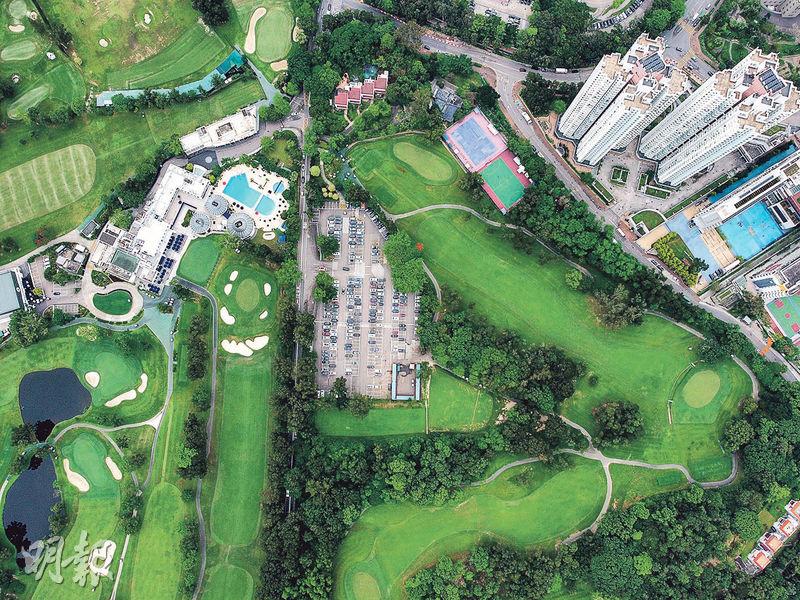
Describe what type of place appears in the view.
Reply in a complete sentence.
What you see here is a golf course.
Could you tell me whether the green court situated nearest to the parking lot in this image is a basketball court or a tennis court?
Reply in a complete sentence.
It looks like the green court situated nearest to the parking lot is a tennis court.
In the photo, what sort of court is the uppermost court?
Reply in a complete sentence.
The uppermost court appears to be a tennis court.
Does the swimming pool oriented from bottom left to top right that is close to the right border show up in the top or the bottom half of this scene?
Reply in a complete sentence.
The top half of the photo is where the swimming pool oriented from bottom left to top right that is close to the right border is.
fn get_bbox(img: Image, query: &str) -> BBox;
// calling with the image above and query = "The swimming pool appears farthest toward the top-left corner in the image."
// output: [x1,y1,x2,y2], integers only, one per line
[222,172,262,209]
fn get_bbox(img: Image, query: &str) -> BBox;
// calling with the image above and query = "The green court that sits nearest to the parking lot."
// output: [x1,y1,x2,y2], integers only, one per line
[473,148,534,216]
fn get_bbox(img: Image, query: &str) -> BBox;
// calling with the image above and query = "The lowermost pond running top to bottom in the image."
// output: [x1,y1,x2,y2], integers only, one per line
[3,445,57,570]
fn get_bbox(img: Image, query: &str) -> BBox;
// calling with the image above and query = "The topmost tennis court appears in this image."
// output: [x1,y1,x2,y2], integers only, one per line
[443,106,509,173]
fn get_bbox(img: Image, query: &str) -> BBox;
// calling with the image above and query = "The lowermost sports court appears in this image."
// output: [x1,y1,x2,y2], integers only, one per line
[768,289,800,339]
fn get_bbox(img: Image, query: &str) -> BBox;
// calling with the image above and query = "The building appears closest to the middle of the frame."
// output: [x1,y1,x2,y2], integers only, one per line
[391,363,420,400]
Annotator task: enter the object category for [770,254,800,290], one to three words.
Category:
building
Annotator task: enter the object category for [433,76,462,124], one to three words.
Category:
house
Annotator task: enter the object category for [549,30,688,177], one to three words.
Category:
building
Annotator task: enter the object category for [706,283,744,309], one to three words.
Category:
house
